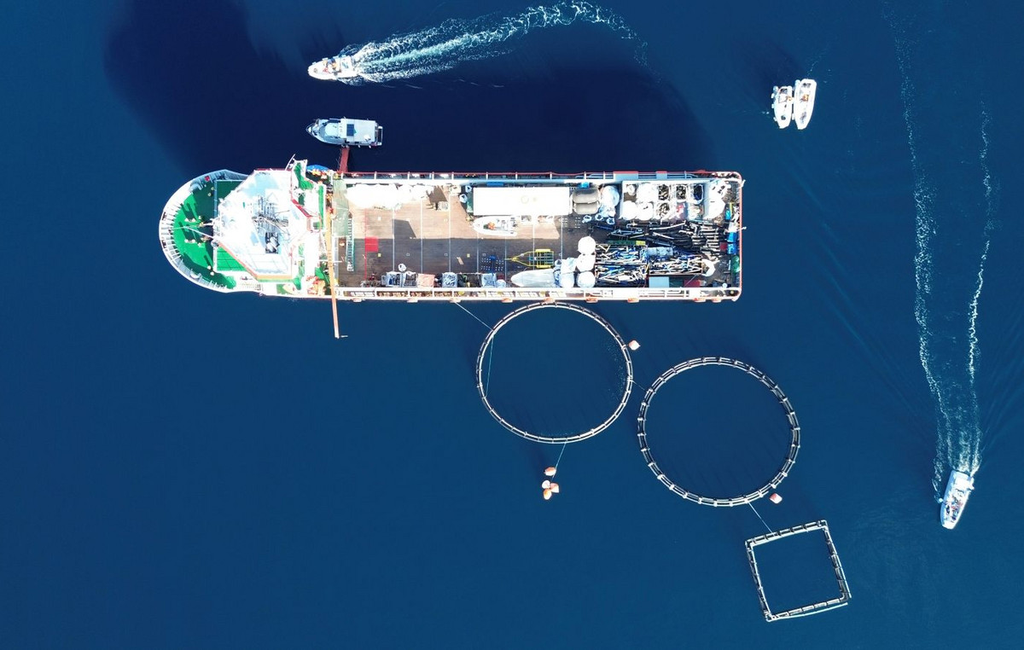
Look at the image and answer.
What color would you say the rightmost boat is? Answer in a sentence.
In this view, the rightmost boat is white.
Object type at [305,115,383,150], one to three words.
boat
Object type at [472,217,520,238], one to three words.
boat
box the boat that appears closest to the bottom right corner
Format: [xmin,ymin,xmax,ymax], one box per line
[941,467,976,531]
